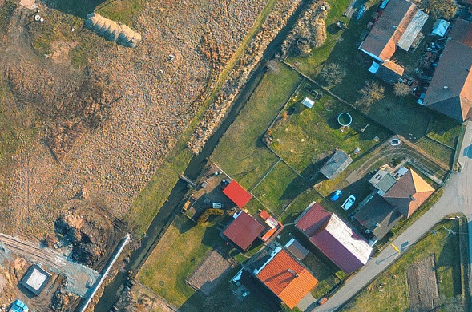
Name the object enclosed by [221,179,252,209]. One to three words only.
shed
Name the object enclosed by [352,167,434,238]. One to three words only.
house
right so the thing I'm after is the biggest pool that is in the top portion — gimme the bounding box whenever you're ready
[338,113,353,127]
